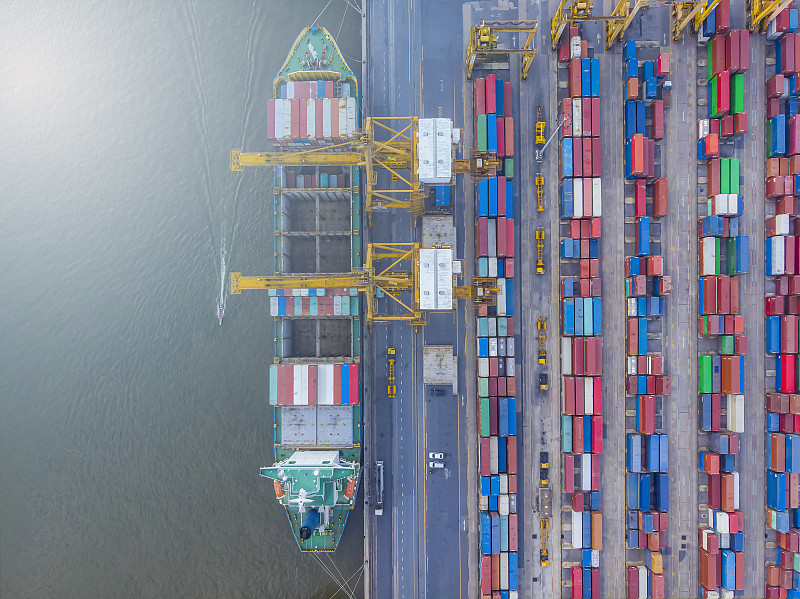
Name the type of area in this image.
port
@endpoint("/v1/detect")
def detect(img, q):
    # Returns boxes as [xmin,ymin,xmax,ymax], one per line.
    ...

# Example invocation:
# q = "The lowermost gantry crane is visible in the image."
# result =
[228,239,500,340]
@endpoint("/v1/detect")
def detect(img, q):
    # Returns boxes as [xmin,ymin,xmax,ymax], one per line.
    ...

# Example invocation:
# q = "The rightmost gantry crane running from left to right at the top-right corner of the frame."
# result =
[695,0,788,33]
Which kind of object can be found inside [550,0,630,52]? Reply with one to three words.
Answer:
container crane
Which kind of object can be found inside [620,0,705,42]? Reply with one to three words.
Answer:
container crane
